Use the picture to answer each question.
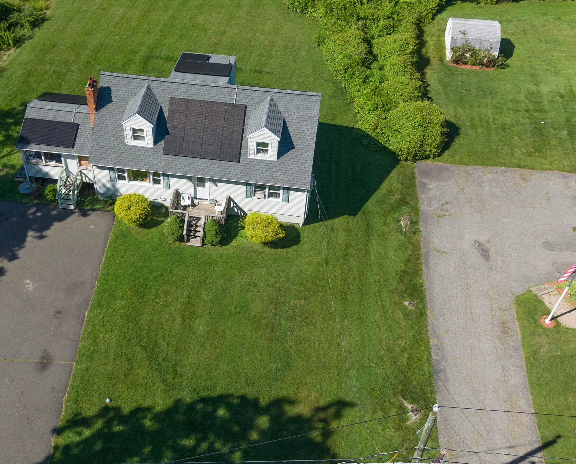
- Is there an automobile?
No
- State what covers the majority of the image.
grass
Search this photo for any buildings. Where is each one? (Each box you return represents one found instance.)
[16,54,321,229]
[444,16,505,62]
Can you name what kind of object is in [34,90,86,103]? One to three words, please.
solar array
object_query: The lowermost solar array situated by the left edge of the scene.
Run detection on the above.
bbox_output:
[18,117,78,147]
